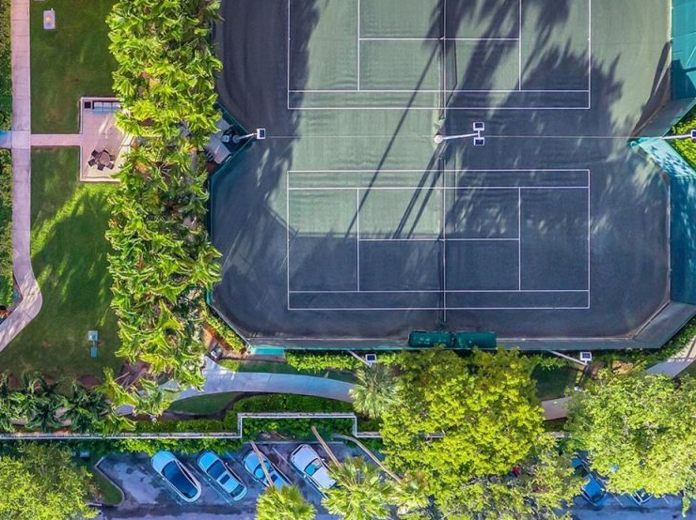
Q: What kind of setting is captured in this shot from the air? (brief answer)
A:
sports ground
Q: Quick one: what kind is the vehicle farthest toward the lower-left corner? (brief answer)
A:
automobile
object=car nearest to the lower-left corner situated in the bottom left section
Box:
[148,453,205,506]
